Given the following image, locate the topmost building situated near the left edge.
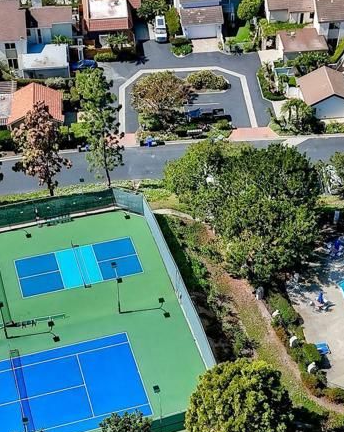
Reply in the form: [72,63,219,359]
[0,0,75,89]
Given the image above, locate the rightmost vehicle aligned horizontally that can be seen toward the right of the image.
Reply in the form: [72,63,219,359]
[197,106,237,123]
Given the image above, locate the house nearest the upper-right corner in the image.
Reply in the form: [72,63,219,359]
[266,0,344,69]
